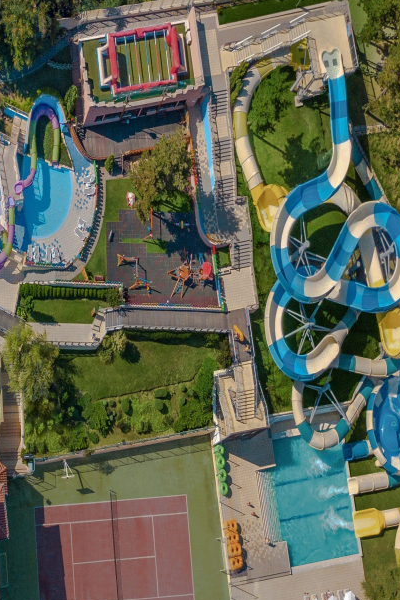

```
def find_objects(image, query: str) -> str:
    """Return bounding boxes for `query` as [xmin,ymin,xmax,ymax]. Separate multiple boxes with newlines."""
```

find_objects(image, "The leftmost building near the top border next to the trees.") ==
[70,6,206,122]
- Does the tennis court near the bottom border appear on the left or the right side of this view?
left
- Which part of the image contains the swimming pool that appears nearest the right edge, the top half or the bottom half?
bottom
